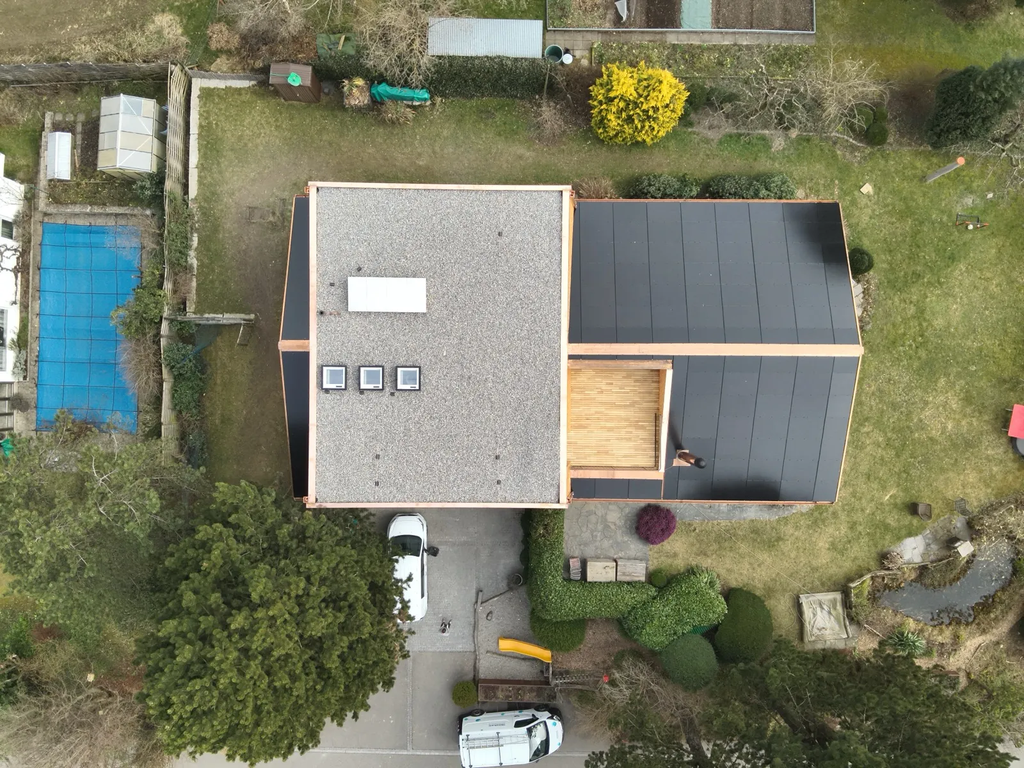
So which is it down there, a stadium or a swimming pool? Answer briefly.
swimming pool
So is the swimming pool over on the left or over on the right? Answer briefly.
left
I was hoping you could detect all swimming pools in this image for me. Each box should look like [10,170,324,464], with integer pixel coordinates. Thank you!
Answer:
[32,222,145,433]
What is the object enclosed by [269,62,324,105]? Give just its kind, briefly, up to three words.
shed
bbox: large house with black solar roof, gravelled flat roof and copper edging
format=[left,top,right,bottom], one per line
[276,182,866,508]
